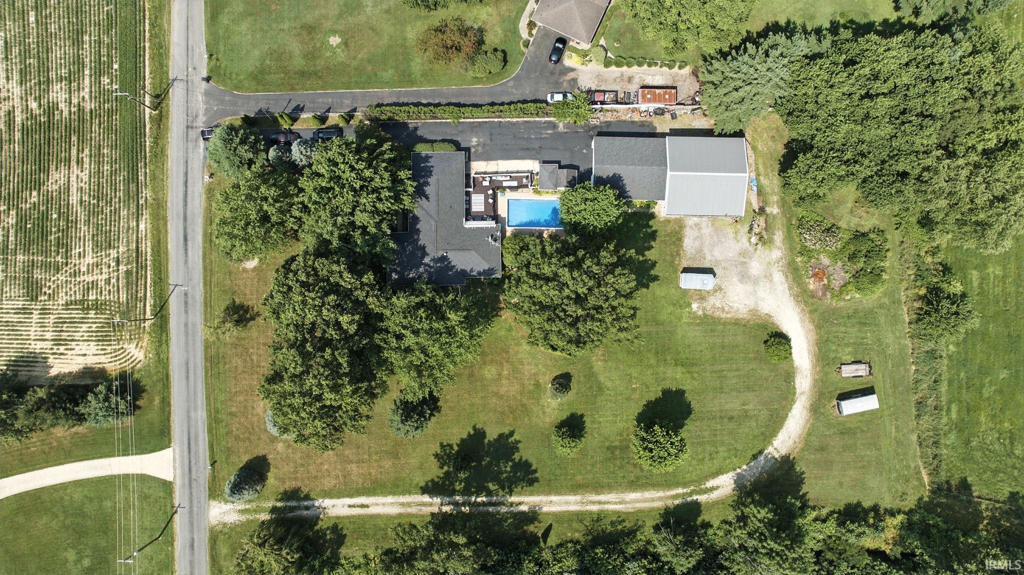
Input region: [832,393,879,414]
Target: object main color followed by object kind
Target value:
white trailer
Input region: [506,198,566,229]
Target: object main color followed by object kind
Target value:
blue swimming pool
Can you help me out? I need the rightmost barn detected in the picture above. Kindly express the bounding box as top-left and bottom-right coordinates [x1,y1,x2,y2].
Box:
[663,136,750,217]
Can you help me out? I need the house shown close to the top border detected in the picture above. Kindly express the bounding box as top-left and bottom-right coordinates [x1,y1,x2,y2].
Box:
[531,0,609,46]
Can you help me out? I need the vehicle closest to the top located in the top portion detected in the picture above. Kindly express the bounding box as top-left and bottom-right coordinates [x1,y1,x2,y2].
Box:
[549,36,566,66]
